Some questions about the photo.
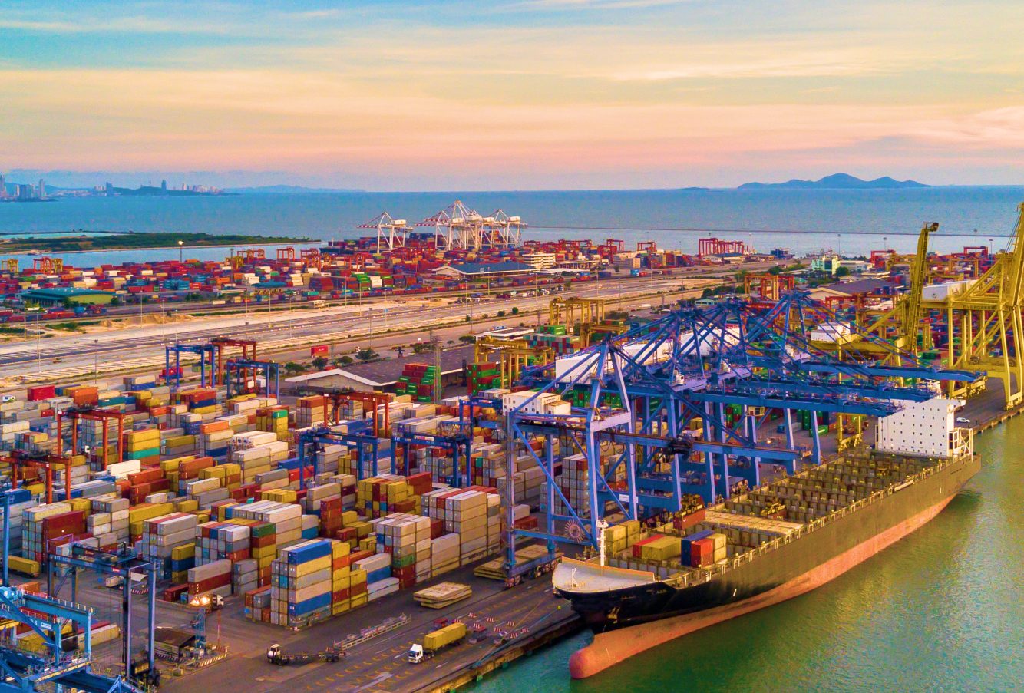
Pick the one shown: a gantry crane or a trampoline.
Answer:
gantry crane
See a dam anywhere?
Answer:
No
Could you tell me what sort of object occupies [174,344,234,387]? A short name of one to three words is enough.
container crane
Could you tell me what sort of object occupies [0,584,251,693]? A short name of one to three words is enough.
container crane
